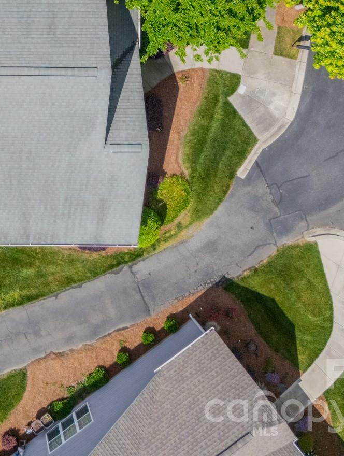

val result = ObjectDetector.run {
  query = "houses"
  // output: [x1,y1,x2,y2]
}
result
[13,318,307,456]
[0,0,148,249]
